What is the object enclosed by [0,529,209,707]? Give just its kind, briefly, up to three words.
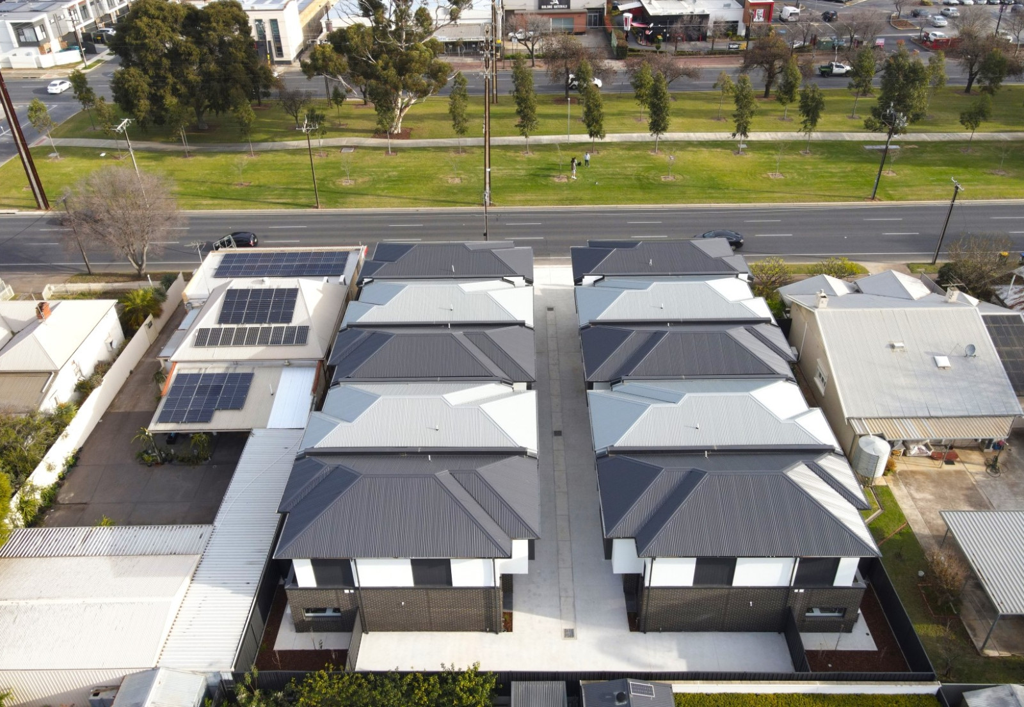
shed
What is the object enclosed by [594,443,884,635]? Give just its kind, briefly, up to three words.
house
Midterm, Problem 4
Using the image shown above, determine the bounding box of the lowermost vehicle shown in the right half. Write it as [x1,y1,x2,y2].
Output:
[691,230,744,249]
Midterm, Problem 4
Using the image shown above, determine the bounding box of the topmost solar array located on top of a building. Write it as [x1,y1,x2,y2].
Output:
[212,249,353,276]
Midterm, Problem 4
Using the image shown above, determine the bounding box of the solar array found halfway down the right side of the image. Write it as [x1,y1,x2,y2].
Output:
[983,322,1024,404]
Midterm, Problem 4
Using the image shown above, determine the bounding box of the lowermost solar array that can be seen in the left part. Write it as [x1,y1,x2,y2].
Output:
[156,371,258,422]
